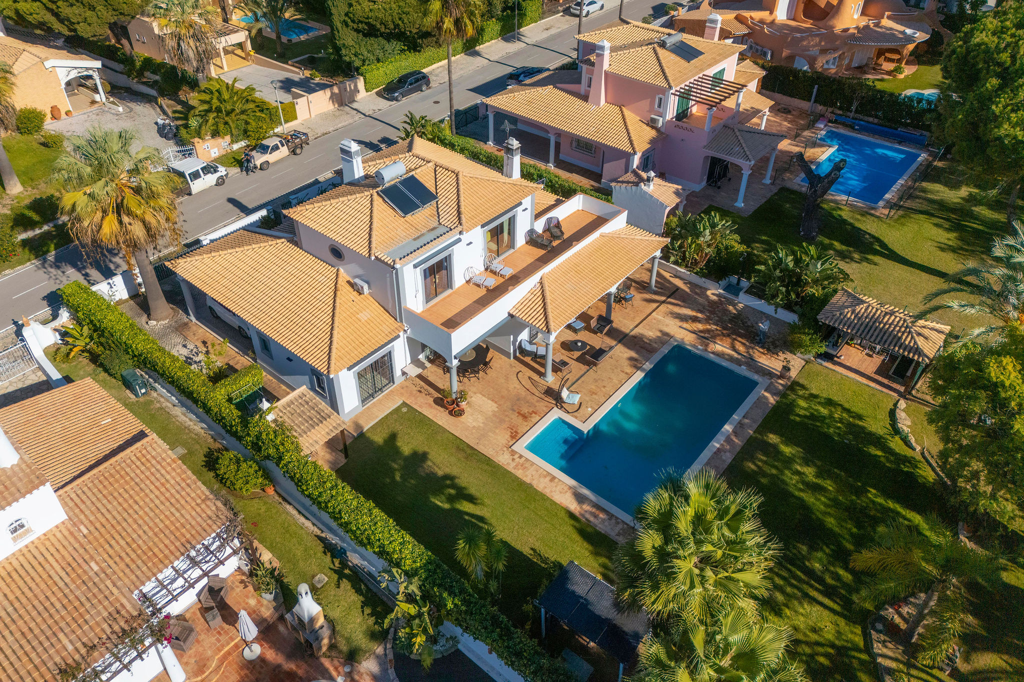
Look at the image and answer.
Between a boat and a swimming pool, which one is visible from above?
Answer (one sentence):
Visible in the photo is a swimming pool.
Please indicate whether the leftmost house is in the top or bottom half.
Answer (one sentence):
The top half of the photo is where the leftmost house is.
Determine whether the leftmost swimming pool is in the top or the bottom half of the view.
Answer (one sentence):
You can find the leftmost swimming pool in the top half.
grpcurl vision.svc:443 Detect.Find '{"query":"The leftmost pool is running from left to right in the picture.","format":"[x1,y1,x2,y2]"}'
[229,11,326,40]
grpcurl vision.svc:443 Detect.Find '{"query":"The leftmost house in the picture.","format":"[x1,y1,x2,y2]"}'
[0,39,105,124]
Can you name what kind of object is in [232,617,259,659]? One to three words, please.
umbrella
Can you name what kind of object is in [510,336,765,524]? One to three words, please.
swimming pool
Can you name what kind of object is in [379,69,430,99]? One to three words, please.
car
